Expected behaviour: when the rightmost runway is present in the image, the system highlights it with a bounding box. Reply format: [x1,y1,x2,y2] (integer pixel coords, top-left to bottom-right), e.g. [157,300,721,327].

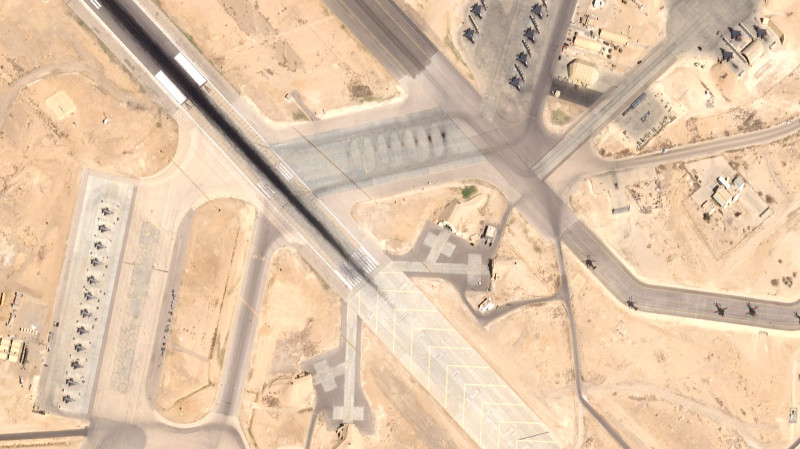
[180,81,380,290]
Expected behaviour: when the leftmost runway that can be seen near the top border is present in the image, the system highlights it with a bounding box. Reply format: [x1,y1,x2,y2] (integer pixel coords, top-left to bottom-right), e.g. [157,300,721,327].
[82,0,207,105]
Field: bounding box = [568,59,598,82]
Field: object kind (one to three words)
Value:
hangar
